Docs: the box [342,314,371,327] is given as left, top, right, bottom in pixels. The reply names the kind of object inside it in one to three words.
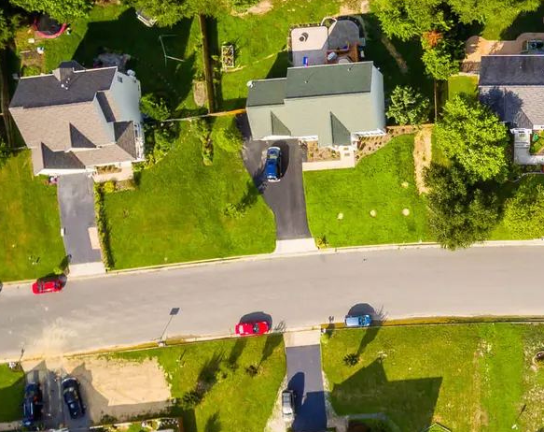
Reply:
vehicle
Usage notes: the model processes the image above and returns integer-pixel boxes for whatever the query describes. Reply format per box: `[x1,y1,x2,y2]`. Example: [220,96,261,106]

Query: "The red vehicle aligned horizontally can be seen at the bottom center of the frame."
[232,320,267,335]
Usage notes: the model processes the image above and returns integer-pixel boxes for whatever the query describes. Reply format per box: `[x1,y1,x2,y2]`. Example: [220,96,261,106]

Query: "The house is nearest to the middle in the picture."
[245,62,386,155]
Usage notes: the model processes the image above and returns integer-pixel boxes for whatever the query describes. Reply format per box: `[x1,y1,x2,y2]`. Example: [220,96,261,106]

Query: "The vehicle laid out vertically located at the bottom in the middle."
[279,388,294,420]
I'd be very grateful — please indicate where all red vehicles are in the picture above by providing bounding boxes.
[232,320,267,335]
[28,278,61,293]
